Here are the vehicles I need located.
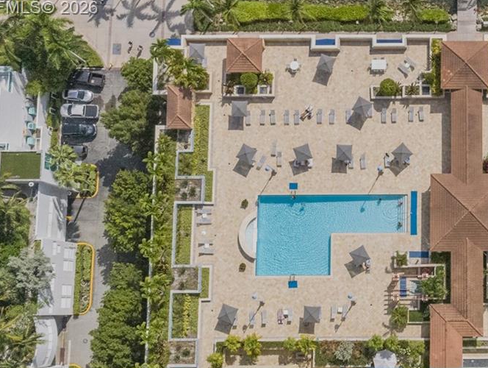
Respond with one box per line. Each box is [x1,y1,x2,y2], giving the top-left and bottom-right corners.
[61,122,99,138]
[60,102,101,120]
[65,143,94,159]
[69,70,110,89]
[63,87,95,103]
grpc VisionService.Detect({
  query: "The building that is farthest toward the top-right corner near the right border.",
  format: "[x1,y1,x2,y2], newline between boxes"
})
[440,41,488,90]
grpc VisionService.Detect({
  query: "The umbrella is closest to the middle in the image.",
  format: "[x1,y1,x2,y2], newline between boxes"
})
[234,141,258,164]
